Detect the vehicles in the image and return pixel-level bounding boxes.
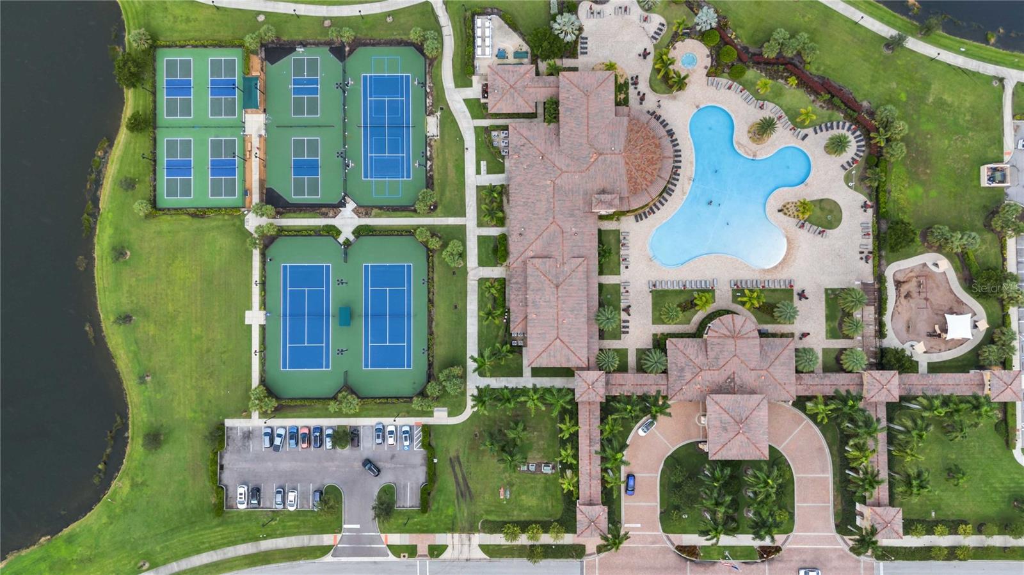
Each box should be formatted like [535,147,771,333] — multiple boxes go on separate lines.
[249,486,260,507]
[386,425,396,446]
[287,489,298,511]
[301,427,311,448]
[374,423,384,445]
[350,428,360,449]
[401,425,411,447]
[638,417,656,437]
[288,426,299,448]
[313,490,323,510]
[274,427,287,452]
[312,426,322,448]
[362,458,381,479]
[799,569,822,575]
[324,428,335,450]
[237,486,248,508]
[1014,138,1024,149]
[263,427,273,449]
[626,474,636,495]
[274,487,285,508]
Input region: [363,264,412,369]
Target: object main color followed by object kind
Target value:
blue tennis court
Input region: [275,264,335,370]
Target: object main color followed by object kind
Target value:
blue tennis court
